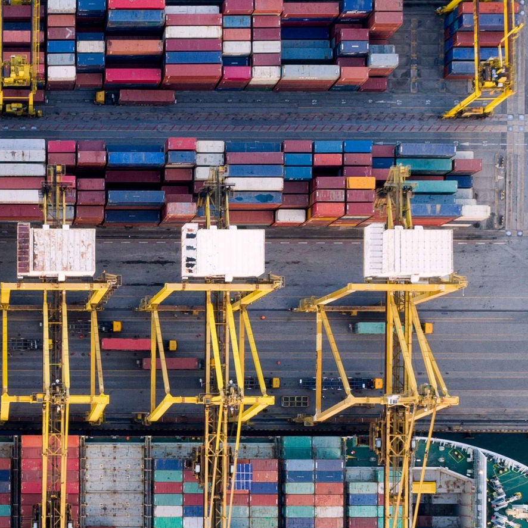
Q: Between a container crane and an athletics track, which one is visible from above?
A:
container crane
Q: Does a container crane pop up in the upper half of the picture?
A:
Yes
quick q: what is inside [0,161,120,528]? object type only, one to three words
container crane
